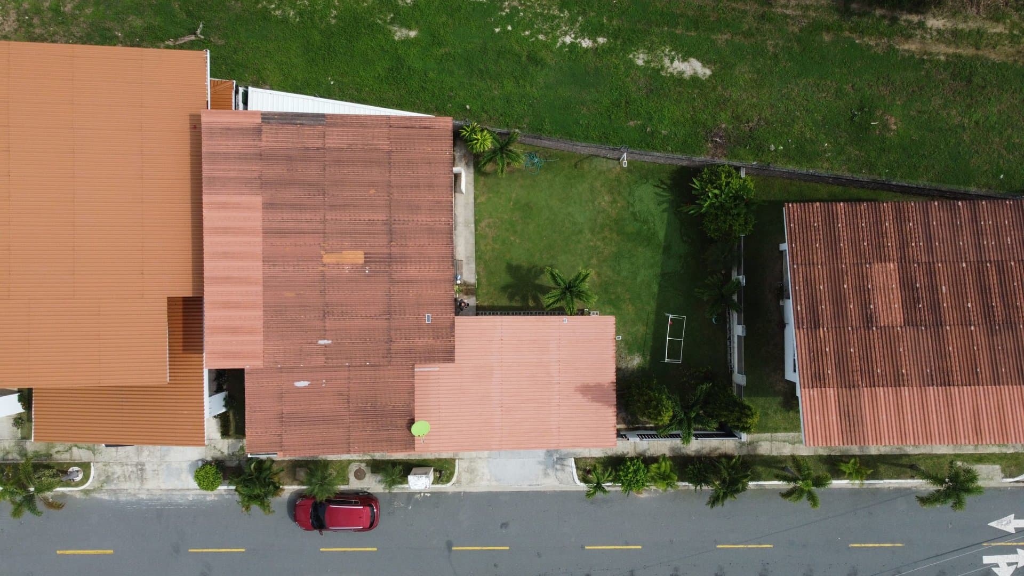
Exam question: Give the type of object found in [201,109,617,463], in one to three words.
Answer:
house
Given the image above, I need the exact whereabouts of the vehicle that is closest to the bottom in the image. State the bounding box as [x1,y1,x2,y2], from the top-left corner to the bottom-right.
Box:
[294,490,382,535]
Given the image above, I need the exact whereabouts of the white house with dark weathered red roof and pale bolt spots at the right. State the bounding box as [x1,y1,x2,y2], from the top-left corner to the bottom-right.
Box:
[781,203,1024,447]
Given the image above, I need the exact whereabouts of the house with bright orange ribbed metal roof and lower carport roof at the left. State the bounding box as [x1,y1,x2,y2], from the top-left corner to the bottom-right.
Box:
[0,43,242,445]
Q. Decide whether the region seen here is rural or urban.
urban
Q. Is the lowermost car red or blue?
red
